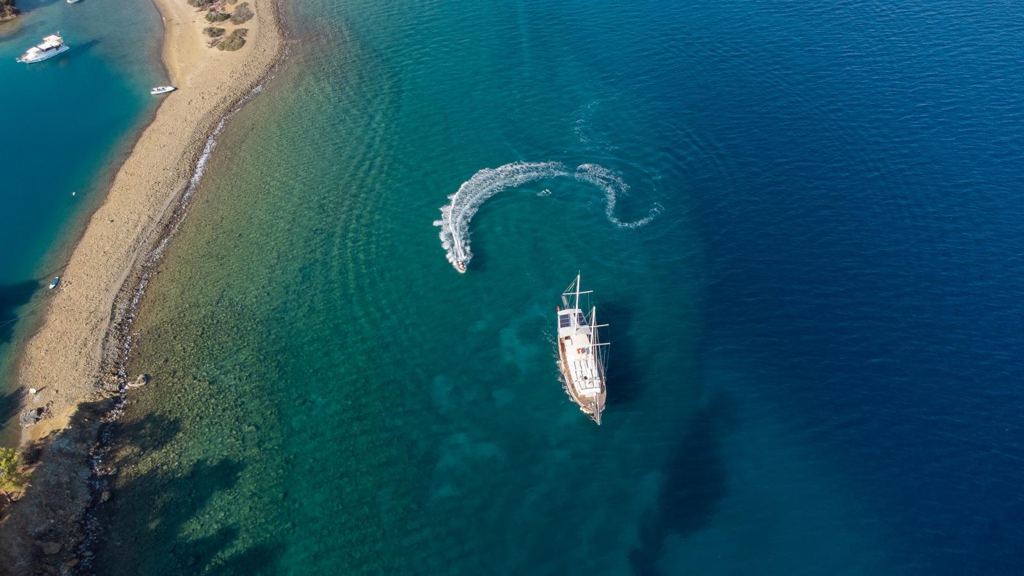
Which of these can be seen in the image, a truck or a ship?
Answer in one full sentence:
Looking from above, you can make out a ship.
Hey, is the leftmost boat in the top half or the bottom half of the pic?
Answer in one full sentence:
You can find the leftmost boat in the top half.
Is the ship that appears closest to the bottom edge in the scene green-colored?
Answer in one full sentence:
No, the color of the ship that appears closest to the bottom edge is white.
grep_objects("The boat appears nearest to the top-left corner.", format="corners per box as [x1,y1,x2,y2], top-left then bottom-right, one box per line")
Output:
[12,36,71,66]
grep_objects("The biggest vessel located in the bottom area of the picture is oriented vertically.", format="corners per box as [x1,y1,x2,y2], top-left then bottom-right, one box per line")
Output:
[553,275,609,426]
